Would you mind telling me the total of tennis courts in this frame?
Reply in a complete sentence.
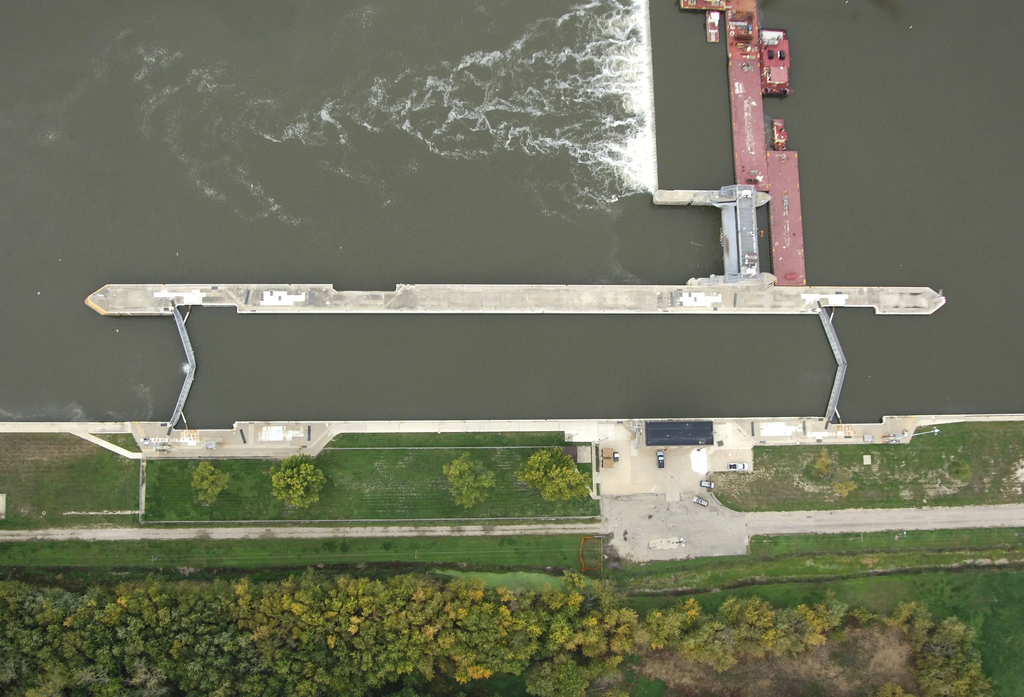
I count no tennis courts.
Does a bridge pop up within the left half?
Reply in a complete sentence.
No, looking within the left half, there is no bridge.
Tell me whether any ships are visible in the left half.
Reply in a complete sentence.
No, I can find no ship in the left half.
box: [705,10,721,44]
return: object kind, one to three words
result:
boat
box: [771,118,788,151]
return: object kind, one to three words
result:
boat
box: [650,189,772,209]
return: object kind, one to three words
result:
pier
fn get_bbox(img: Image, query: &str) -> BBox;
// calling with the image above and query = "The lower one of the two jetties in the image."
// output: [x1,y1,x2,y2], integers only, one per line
[683,272,776,291]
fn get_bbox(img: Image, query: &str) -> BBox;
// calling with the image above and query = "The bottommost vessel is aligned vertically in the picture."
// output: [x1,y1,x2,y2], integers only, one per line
[766,151,806,286]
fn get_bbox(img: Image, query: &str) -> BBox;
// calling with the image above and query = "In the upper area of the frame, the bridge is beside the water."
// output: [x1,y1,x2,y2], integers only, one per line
[732,183,760,281]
